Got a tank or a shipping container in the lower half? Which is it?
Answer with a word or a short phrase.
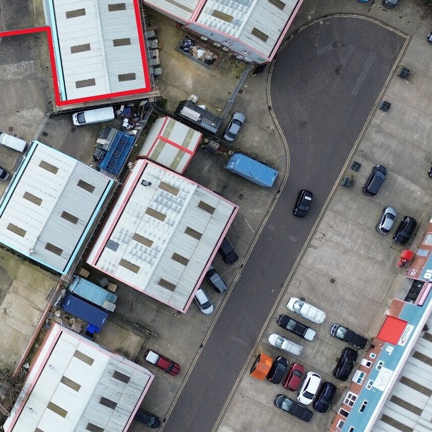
shipping container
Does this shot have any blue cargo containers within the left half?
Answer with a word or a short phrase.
Yes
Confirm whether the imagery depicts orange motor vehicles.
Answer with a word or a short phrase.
Yes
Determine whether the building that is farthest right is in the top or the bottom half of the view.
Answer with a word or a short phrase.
bottom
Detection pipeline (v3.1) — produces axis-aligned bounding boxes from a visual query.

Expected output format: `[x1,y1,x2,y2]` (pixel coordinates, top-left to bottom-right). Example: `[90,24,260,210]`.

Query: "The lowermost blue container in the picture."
[61,291,109,329]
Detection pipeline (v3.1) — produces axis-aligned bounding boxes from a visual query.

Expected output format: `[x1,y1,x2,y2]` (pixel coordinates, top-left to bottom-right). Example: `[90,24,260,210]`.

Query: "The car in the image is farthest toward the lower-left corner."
[134,406,162,430]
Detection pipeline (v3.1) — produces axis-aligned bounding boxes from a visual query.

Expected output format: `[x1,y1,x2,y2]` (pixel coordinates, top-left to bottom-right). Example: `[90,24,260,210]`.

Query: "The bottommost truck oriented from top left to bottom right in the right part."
[271,392,317,427]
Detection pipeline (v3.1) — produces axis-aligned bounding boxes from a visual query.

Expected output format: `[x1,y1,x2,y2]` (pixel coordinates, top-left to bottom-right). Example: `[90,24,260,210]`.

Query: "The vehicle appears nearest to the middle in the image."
[220,236,240,264]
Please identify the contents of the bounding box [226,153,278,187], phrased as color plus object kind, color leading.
blue shipping container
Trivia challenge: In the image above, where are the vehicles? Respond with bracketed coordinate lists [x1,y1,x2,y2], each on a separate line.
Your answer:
[266,354,287,385]
[290,188,315,218]
[205,264,230,295]
[248,352,273,380]
[194,286,214,316]
[274,314,320,344]
[296,369,324,406]
[334,346,357,381]
[392,214,420,246]
[0,166,11,183]
[220,236,240,264]
[382,0,401,10]
[70,105,118,127]
[142,346,182,376]
[374,205,398,236]
[134,406,162,430]
[264,332,307,359]
[313,379,339,413]
[284,296,329,327]
[0,127,28,154]
[282,360,305,394]
[327,323,370,354]
[223,111,245,144]
[271,392,317,427]
[361,164,387,198]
